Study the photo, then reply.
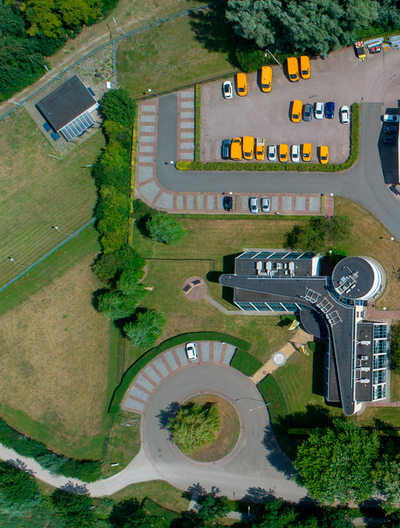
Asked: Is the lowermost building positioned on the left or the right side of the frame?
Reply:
right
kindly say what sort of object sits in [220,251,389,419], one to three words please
building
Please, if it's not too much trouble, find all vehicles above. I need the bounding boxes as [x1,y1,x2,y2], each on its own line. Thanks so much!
[326,101,335,119]
[381,113,398,123]
[287,56,299,83]
[340,106,349,124]
[315,101,324,119]
[279,143,289,163]
[222,139,231,159]
[291,99,303,124]
[381,135,397,144]
[300,54,311,80]
[243,135,254,160]
[382,124,398,133]
[291,144,300,163]
[318,145,328,164]
[250,196,259,213]
[223,81,233,100]
[254,137,266,161]
[186,342,197,361]
[230,138,242,160]
[261,197,271,213]
[261,65,272,93]
[303,103,312,122]
[268,144,277,162]
[302,142,312,162]
[236,72,248,97]
[224,196,233,211]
